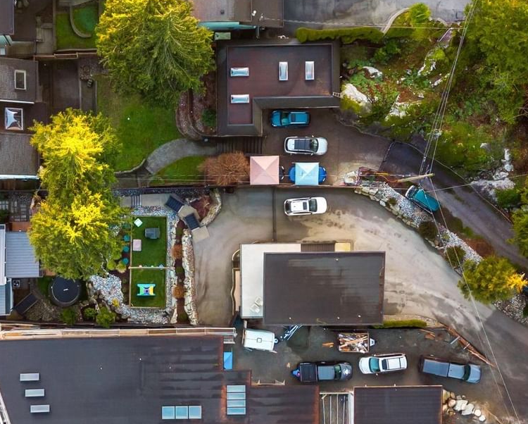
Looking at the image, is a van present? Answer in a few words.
Yes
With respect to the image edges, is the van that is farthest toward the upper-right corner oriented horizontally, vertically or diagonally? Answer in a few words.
diagonally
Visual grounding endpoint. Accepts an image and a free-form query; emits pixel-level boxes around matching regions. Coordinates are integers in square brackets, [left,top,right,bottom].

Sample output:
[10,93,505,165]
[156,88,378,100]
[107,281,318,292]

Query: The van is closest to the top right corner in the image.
[403,180,450,219]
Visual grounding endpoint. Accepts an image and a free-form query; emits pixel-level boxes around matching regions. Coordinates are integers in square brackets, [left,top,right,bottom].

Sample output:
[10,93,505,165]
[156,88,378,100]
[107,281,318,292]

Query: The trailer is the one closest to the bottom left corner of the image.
[242,327,284,355]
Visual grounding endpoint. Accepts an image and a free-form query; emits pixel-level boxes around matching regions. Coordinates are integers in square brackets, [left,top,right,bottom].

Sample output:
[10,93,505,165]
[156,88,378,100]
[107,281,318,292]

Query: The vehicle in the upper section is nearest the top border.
[271,109,315,128]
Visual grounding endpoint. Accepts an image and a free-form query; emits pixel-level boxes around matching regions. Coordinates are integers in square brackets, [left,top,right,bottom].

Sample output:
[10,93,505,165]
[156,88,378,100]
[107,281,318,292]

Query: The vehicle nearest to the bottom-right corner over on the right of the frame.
[421,358,486,384]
